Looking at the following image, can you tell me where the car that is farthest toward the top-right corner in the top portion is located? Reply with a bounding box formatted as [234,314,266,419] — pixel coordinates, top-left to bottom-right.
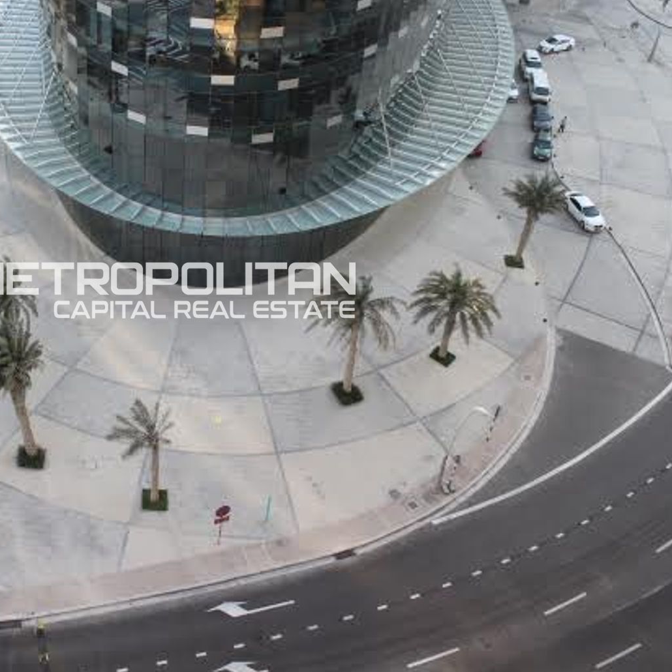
[539,36,578,54]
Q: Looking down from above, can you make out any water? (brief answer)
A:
No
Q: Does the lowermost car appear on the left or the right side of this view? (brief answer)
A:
right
